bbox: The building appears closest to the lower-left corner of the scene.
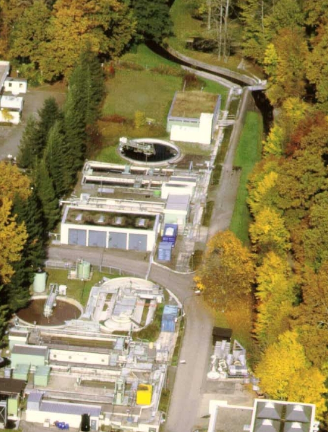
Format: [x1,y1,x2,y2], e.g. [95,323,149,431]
[0,385,28,432]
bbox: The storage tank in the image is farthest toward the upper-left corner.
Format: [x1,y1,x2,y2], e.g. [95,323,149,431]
[112,138,184,169]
